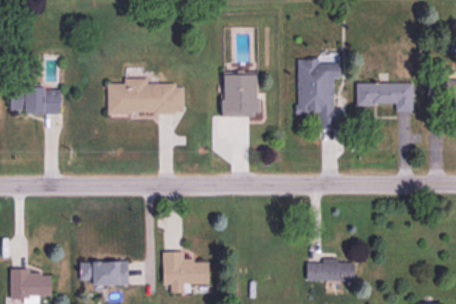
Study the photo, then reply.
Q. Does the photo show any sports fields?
No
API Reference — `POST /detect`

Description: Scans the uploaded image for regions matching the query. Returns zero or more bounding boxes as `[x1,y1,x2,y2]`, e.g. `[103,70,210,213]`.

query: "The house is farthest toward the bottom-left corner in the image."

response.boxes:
[10,268,52,300]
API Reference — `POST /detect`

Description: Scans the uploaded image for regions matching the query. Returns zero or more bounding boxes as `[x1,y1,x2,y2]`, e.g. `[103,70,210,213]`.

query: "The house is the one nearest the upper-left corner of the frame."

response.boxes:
[10,88,62,116]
